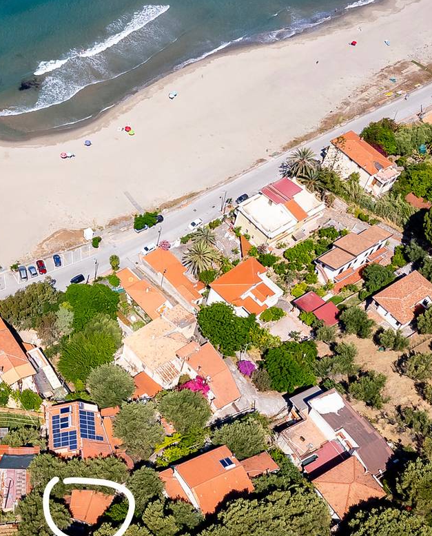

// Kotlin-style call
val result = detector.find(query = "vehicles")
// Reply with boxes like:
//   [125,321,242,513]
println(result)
[134,224,152,235]
[68,274,86,285]
[26,264,39,279]
[36,260,48,276]
[186,218,205,230]
[16,266,29,281]
[150,214,168,226]
[139,242,157,255]
[233,194,250,204]
[51,255,62,269]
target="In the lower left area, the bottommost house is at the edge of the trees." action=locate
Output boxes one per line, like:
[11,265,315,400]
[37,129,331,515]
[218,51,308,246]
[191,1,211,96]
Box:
[65,490,114,528]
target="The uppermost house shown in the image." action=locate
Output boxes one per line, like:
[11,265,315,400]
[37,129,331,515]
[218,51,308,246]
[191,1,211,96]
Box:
[326,130,401,192]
